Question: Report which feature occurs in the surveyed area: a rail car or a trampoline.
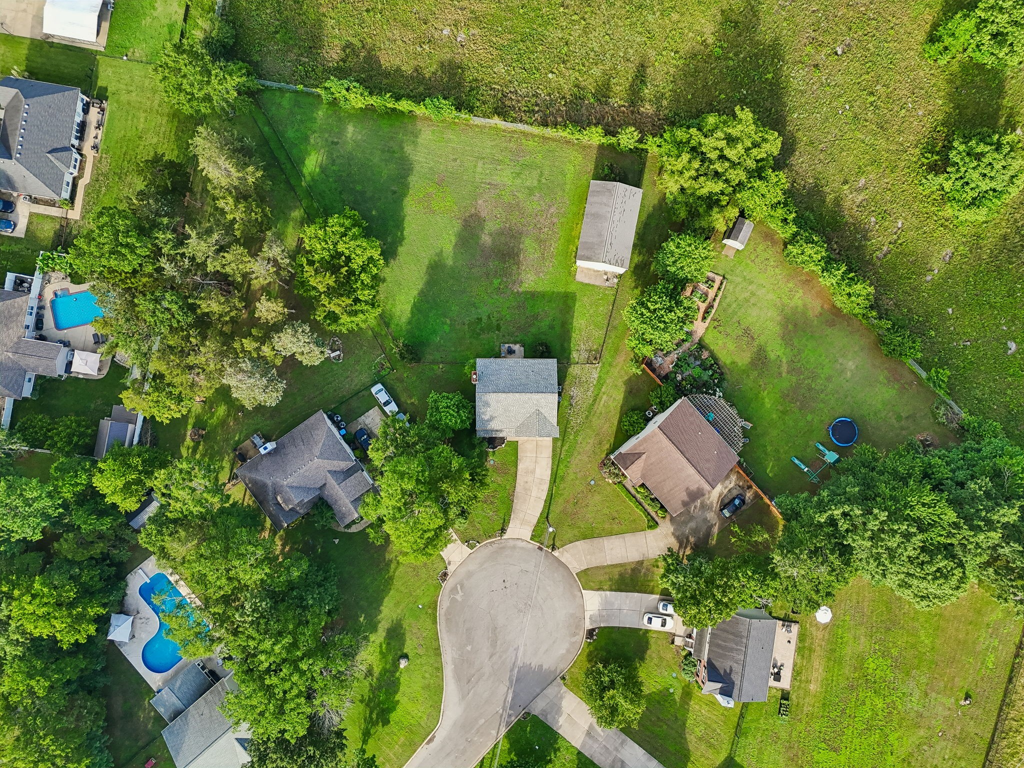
trampoline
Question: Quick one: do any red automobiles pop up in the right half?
No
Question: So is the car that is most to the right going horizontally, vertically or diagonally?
diagonally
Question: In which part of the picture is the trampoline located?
right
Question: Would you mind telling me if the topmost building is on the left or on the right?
left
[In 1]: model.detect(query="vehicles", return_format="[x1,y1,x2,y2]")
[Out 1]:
[0,217,18,233]
[354,427,374,458]
[641,613,674,630]
[371,382,396,414]
[718,491,746,521]
[0,198,19,214]
[653,599,685,617]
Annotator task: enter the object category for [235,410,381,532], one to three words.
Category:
house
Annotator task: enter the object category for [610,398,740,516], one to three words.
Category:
house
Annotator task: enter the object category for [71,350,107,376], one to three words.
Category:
umbrella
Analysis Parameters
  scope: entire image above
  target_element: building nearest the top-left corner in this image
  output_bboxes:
[42,0,115,54]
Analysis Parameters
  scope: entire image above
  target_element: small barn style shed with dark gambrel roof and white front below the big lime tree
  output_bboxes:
[721,217,753,248]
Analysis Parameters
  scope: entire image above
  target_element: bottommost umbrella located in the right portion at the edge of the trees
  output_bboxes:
[815,606,832,623]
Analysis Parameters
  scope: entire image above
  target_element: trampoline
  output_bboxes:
[823,418,858,446]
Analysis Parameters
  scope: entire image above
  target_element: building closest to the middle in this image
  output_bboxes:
[471,358,559,437]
